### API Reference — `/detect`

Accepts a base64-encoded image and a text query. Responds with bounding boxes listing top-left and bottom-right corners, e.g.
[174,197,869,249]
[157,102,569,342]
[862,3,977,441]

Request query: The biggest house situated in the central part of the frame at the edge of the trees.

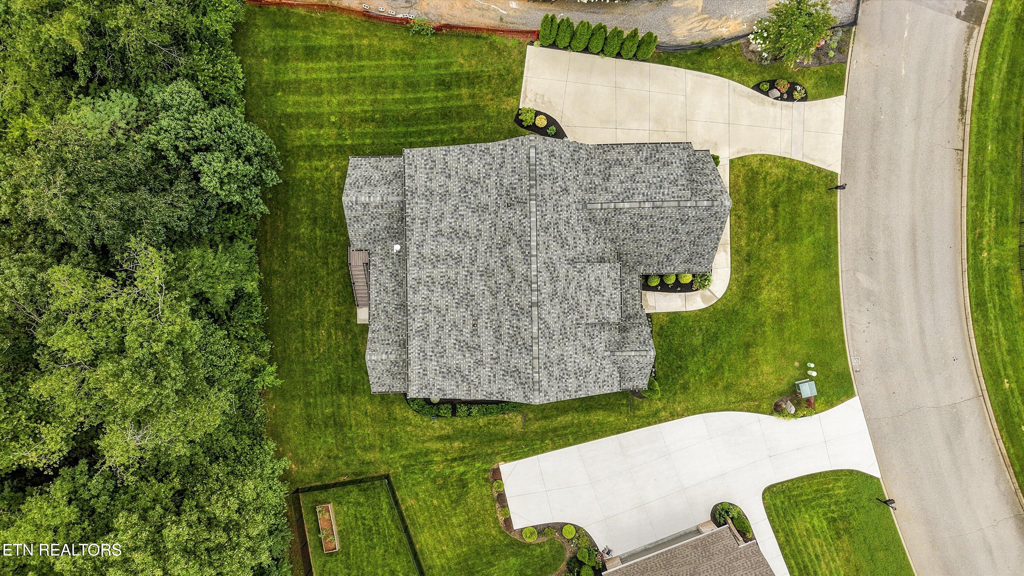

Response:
[342,133,731,405]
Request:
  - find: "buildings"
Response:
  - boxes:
[600,510,775,576]
[342,133,731,405]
